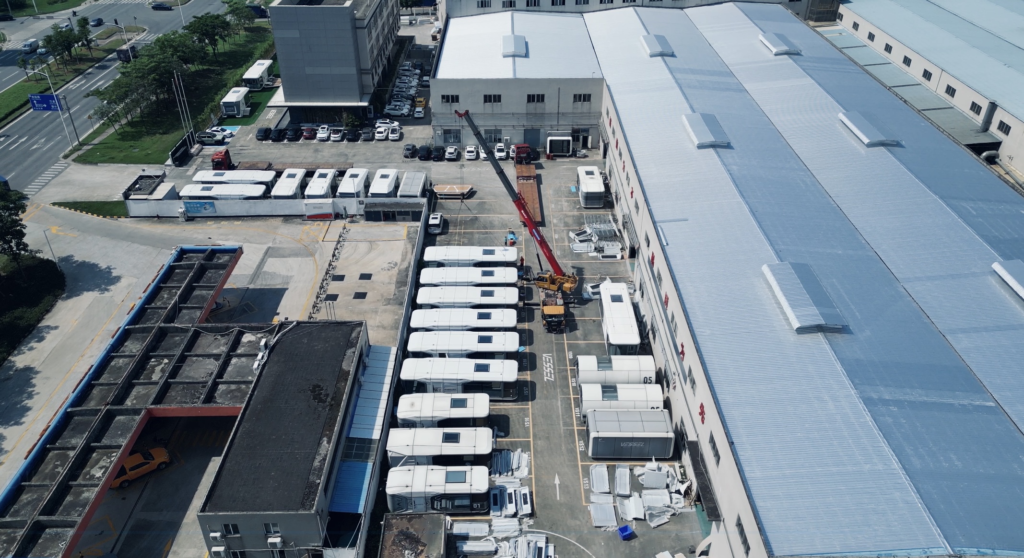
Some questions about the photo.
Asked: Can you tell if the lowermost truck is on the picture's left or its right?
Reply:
left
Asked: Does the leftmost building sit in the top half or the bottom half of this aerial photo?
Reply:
top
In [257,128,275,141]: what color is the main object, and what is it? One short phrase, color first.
black vehicle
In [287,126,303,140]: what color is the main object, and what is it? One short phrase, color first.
black car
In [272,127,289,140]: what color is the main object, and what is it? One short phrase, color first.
black vehicle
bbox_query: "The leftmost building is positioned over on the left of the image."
[122,169,191,197]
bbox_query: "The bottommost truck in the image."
[116,451,176,493]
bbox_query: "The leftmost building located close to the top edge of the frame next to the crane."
[266,0,398,121]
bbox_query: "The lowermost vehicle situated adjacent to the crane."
[430,211,447,233]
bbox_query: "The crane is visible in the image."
[446,107,584,331]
